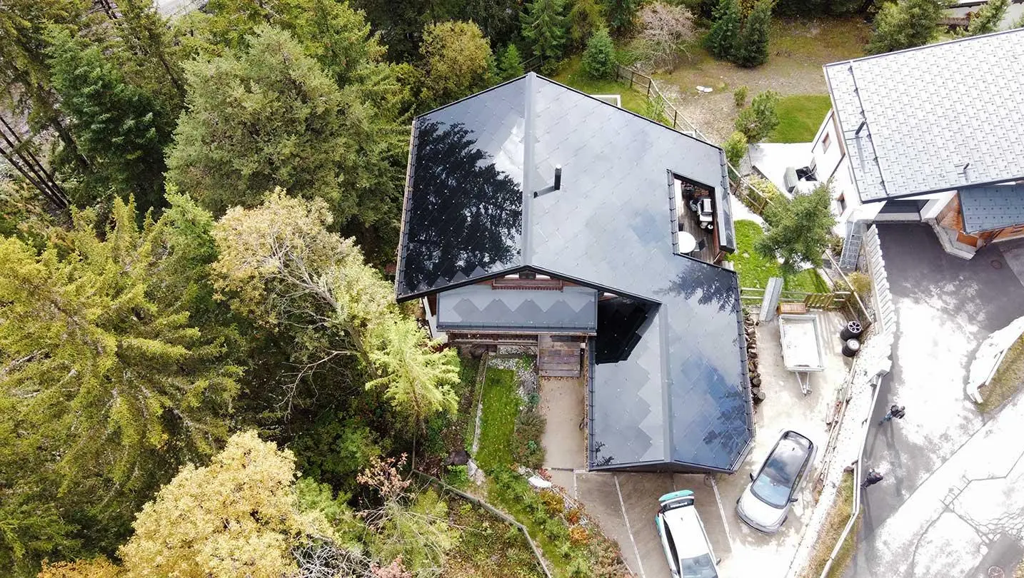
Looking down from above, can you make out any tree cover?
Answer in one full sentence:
Yes, there is tree cover in the image.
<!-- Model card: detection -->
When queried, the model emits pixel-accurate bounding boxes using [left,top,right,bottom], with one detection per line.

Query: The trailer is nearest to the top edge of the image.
[773,314,827,401]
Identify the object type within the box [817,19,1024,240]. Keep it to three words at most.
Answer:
house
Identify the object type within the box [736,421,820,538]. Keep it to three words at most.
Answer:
car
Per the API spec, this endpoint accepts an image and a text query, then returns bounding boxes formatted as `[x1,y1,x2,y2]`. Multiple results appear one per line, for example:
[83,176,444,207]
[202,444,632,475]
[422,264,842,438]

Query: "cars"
[647,477,732,578]
[736,421,820,538]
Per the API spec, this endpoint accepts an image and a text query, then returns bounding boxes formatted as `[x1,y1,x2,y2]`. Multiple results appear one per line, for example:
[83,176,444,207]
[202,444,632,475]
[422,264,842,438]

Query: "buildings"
[817,19,1024,240]
[392,73,758,477]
